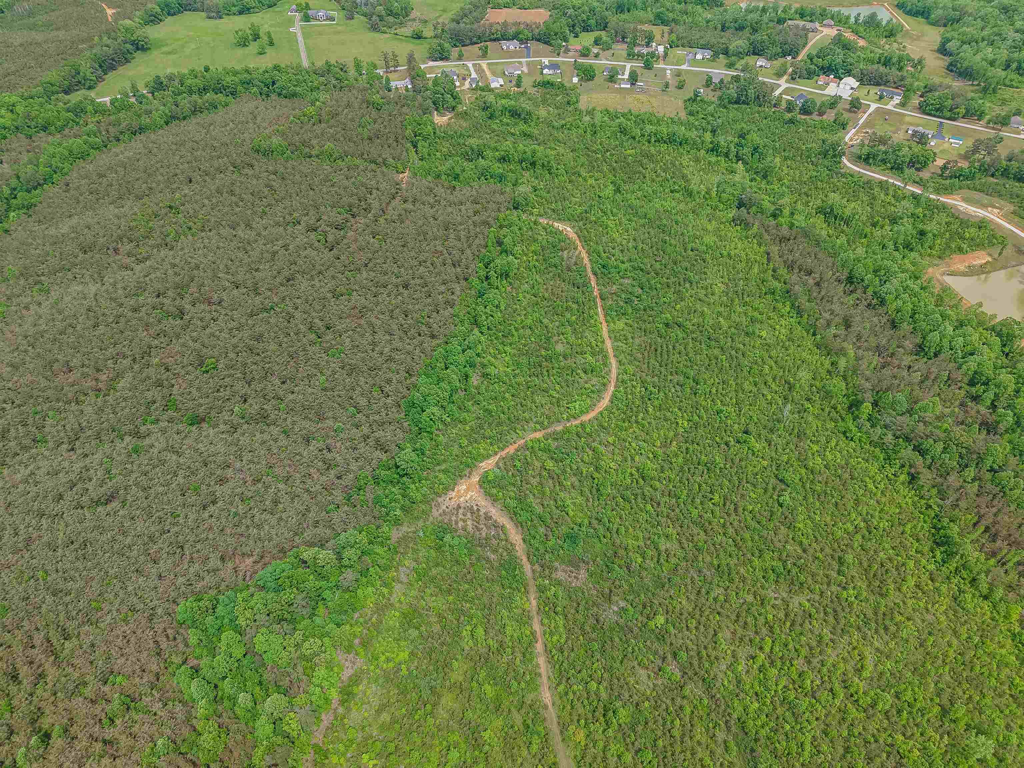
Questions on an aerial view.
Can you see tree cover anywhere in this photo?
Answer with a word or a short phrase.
Yes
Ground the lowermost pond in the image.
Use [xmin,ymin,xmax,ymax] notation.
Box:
[944,265,1024,321]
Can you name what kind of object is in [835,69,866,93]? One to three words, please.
house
